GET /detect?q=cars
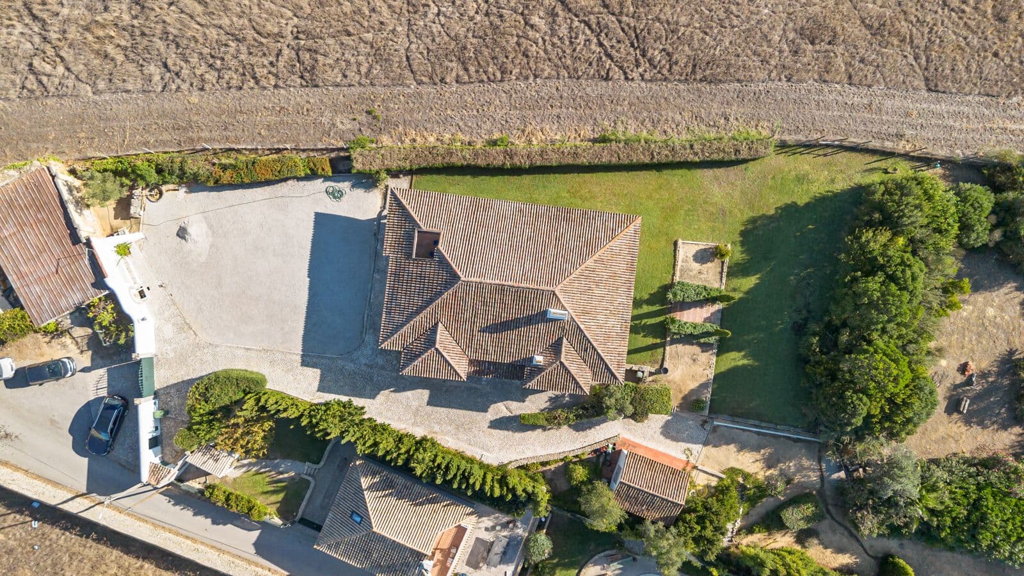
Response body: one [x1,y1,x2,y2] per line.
[88,396,132,457]
[24,356,81,385]
[0,354,18,382]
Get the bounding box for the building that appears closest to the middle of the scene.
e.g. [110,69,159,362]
[373,186,643,396]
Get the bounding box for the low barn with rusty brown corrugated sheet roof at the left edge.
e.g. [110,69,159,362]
[0,167,114,330]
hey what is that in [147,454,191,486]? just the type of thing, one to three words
shed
